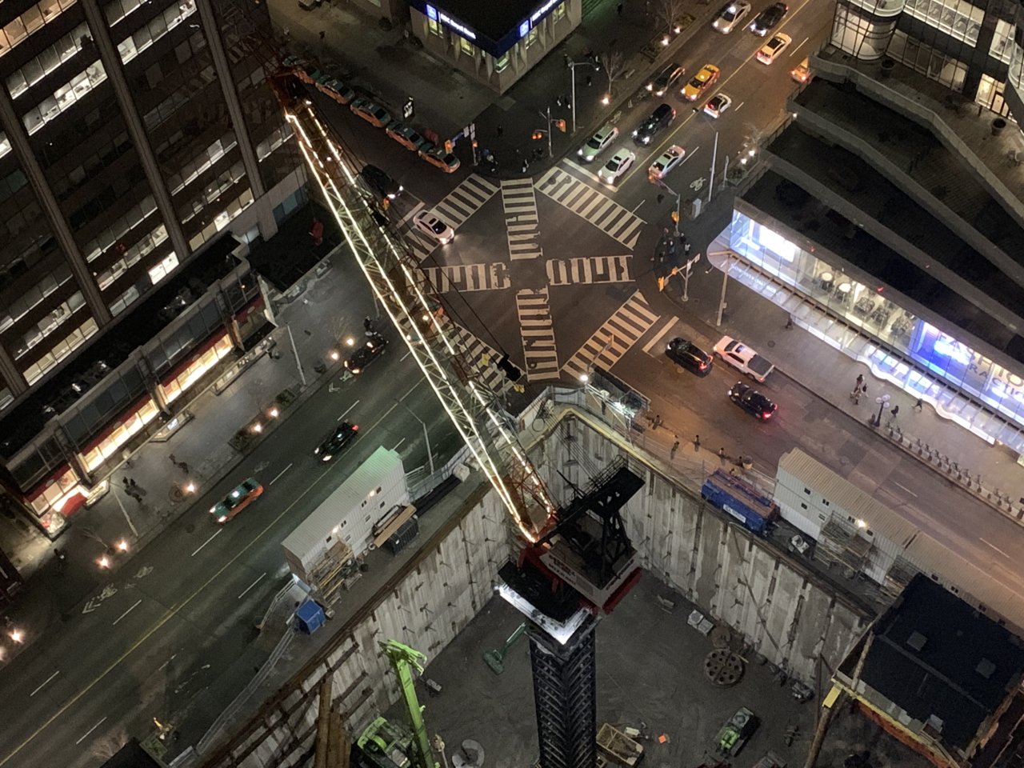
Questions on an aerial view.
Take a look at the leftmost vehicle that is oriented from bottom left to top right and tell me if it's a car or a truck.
car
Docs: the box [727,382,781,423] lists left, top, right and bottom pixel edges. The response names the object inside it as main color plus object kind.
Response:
black car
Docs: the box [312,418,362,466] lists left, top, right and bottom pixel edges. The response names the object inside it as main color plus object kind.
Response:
black car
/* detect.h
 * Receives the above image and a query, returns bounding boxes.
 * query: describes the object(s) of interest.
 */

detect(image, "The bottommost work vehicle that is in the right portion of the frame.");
[711,702,761,757]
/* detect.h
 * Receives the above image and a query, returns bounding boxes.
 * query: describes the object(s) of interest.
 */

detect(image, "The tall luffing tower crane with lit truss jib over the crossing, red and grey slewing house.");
[262,50,651,768]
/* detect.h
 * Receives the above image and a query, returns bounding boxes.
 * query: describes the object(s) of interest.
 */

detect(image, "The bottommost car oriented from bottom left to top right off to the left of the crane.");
[211,476,264,526]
